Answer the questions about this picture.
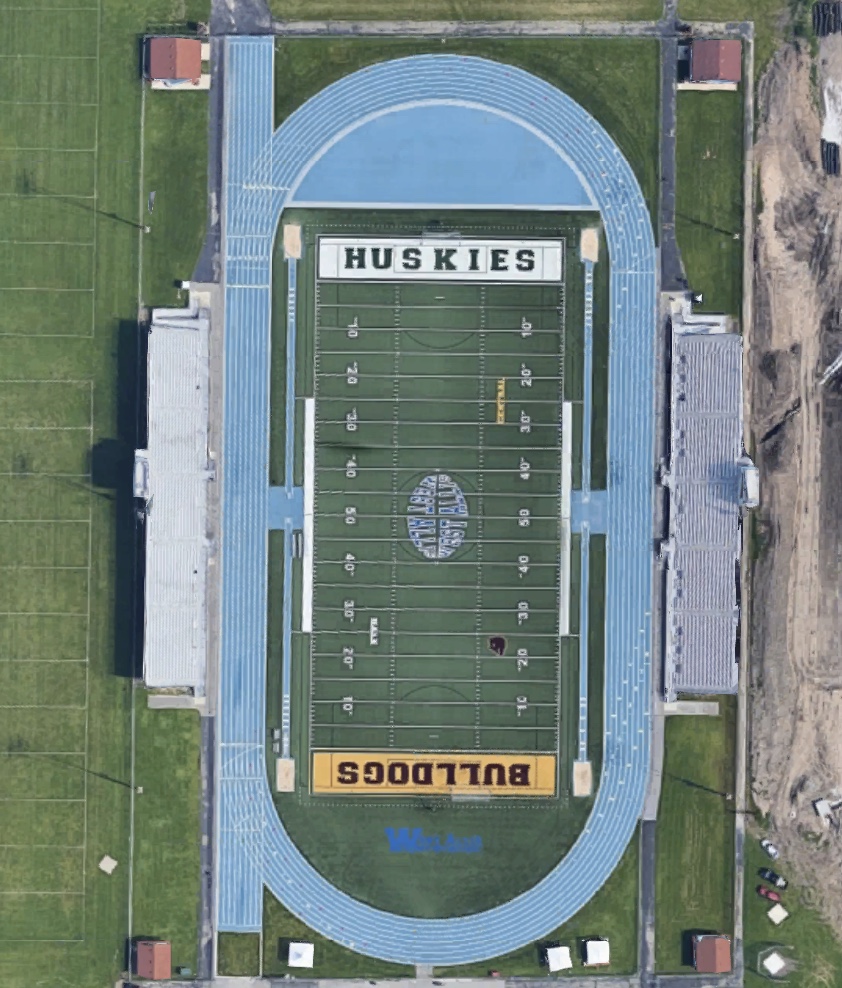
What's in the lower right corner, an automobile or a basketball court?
automobile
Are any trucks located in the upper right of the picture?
No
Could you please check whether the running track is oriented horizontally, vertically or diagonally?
vertically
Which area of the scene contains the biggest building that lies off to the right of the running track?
top right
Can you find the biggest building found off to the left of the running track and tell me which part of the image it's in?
top left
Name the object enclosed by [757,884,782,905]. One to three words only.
car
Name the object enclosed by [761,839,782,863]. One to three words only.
car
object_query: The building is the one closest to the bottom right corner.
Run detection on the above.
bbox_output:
[695,935,732,975]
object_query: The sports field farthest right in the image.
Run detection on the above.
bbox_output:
[266,208,609,918]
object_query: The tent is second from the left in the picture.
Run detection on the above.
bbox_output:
[545,942,570,971]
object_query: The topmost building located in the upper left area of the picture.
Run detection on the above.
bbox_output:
[150,36,202,81]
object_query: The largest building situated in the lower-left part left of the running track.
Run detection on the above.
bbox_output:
[137,938,172,979]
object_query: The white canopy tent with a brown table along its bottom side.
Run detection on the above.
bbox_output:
[584,937,609,964]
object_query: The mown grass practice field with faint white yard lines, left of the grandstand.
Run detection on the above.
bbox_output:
[0,0,210,988]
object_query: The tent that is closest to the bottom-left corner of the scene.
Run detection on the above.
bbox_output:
[289,938,314,967]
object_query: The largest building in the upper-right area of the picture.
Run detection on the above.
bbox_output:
[692,38,742,83]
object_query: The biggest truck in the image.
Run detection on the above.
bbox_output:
[756,866,791,894]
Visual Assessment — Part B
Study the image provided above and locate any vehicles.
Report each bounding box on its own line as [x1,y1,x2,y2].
[761,839,782,863]
[756,866,791,894]
[757,884,782,905]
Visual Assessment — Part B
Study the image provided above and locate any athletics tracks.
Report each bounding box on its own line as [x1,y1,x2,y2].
[218,37,656,965]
